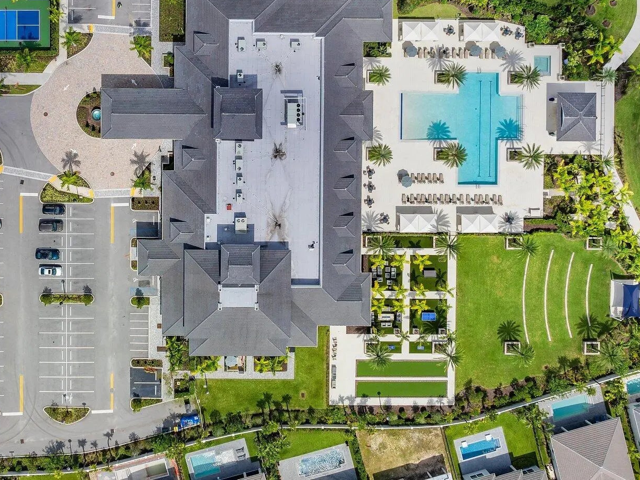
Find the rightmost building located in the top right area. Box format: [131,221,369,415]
[550,92,597,142]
